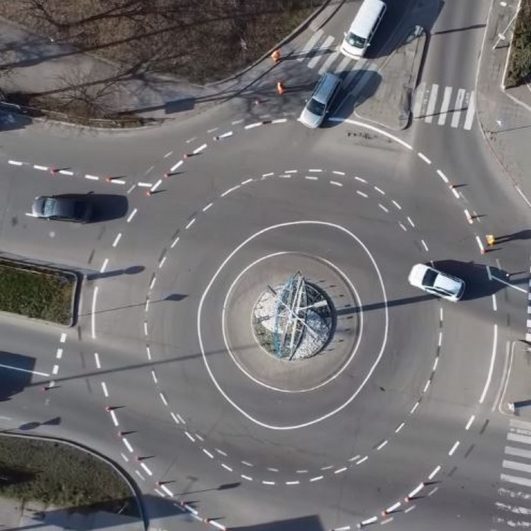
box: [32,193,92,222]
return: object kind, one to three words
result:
car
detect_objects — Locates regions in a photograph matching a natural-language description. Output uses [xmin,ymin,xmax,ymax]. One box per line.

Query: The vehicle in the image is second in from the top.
[301,74,341,130]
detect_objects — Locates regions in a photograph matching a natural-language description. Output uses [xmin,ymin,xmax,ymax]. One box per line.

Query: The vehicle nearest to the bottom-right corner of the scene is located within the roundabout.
[408,263,465,302]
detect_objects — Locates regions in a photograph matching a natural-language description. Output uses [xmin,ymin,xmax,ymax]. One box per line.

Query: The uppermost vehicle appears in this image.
[341,0,387,61]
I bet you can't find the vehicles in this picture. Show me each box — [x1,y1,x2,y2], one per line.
[408,263,465,302]
[32,193,92,222]
[341,0,387,61]
[301,74,341,130]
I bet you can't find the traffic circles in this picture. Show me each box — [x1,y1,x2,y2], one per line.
[78,111,510,531]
